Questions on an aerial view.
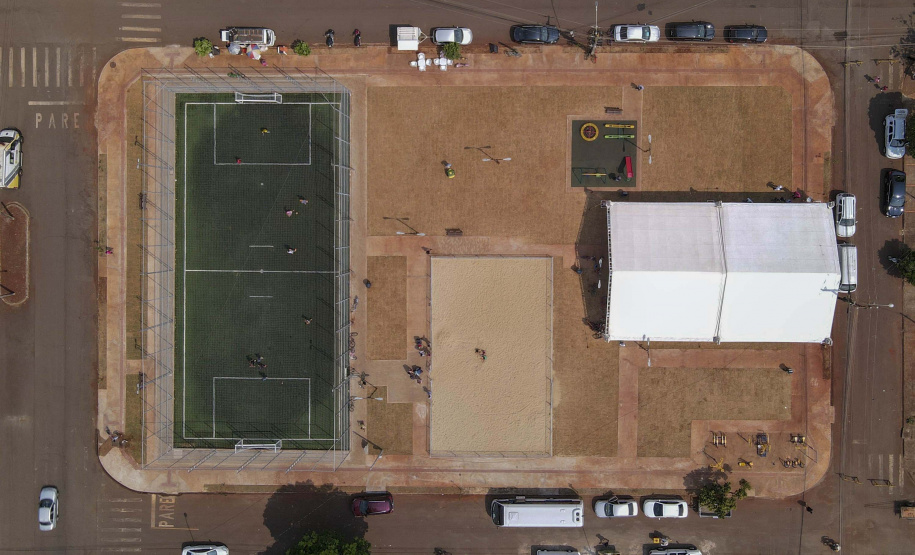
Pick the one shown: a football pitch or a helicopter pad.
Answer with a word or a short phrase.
football pitch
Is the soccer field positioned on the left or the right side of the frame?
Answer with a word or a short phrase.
left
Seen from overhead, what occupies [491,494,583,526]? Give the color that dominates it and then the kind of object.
white bus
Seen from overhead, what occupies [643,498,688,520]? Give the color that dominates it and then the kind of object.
white car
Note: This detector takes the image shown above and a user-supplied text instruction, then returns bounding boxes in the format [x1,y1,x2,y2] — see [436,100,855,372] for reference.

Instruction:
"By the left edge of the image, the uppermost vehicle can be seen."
[0,130,24,187]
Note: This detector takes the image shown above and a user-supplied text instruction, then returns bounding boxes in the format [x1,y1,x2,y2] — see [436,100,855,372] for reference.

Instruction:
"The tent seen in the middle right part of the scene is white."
[589,196,844,346]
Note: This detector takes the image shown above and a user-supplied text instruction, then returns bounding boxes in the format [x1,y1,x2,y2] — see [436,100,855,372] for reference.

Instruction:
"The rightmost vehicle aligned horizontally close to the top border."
[724,23,768,44]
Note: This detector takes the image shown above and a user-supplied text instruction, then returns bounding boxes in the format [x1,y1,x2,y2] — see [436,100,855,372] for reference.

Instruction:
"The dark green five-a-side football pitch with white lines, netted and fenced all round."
[147,74,354,466]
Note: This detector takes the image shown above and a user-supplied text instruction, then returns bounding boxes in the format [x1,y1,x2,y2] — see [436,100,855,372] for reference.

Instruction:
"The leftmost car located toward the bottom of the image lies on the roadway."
[37,484,62,531]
